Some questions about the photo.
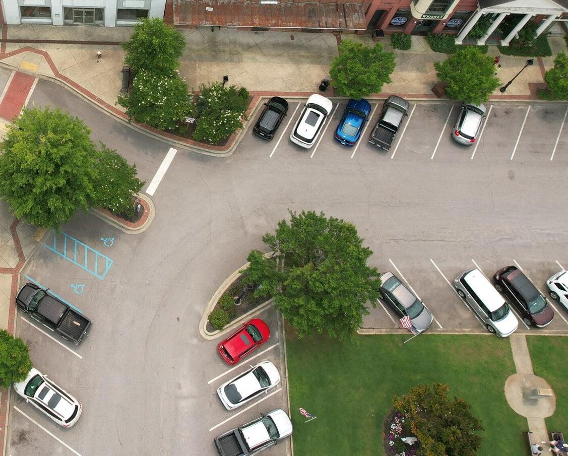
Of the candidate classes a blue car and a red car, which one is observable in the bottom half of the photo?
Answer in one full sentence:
Looking in the bottom half of the photo, you will find a red car.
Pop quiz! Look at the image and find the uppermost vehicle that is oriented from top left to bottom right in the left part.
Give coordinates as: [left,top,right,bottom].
[25,287,100,351]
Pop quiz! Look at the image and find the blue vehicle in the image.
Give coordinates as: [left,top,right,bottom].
[333,96,371,151]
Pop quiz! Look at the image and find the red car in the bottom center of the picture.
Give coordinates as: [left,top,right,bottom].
[215,318,274,369]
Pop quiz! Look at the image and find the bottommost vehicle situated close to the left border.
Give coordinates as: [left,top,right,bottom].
[14,371,81,431]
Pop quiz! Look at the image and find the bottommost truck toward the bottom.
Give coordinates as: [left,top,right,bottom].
[211,406,294,456]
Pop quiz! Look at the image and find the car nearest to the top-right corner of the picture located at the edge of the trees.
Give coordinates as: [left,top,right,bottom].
[451,99,491,151]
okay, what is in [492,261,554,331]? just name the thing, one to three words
car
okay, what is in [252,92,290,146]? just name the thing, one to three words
car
